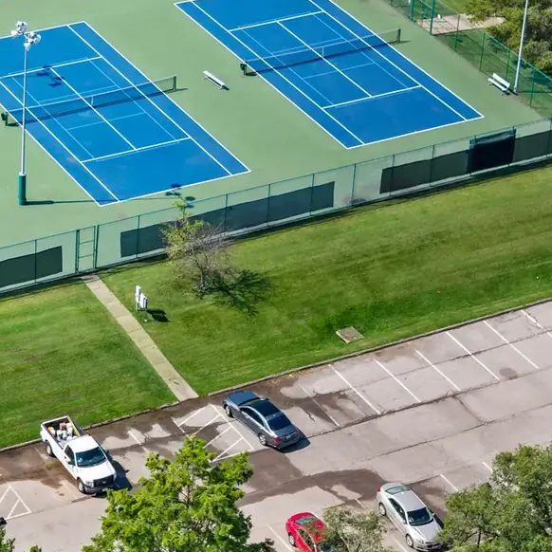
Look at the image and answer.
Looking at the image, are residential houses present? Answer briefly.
No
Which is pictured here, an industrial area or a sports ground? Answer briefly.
sports ground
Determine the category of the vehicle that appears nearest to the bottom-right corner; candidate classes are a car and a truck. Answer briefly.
car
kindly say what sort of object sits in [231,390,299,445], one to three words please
car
